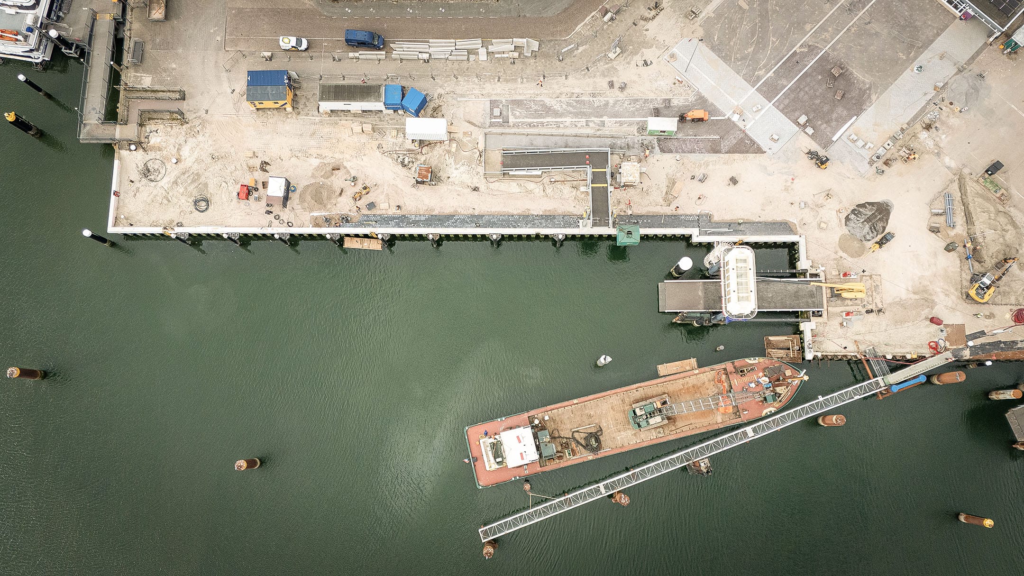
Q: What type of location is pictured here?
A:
port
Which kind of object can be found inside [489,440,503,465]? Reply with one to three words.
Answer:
boat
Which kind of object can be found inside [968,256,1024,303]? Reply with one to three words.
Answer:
work vehicle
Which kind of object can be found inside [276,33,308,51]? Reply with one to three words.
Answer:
vehicle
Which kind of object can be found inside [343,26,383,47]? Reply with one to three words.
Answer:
vehicle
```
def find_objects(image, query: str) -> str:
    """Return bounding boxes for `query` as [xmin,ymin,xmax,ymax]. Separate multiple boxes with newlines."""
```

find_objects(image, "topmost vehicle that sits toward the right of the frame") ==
[1002,24,1024,54]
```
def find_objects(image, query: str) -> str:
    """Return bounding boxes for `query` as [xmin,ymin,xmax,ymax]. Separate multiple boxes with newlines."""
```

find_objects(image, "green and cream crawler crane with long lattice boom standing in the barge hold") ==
[629,393,761,433]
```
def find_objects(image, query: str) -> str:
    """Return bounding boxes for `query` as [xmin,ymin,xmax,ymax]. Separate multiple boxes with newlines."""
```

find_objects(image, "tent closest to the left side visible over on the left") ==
[268,177,294,211]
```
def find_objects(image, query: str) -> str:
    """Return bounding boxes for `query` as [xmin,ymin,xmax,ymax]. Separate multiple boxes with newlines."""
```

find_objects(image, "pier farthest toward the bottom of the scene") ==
[993,404,1024,450]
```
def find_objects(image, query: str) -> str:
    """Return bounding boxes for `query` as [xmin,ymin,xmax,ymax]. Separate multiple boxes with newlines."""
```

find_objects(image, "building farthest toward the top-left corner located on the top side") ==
[246,86,292,111]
